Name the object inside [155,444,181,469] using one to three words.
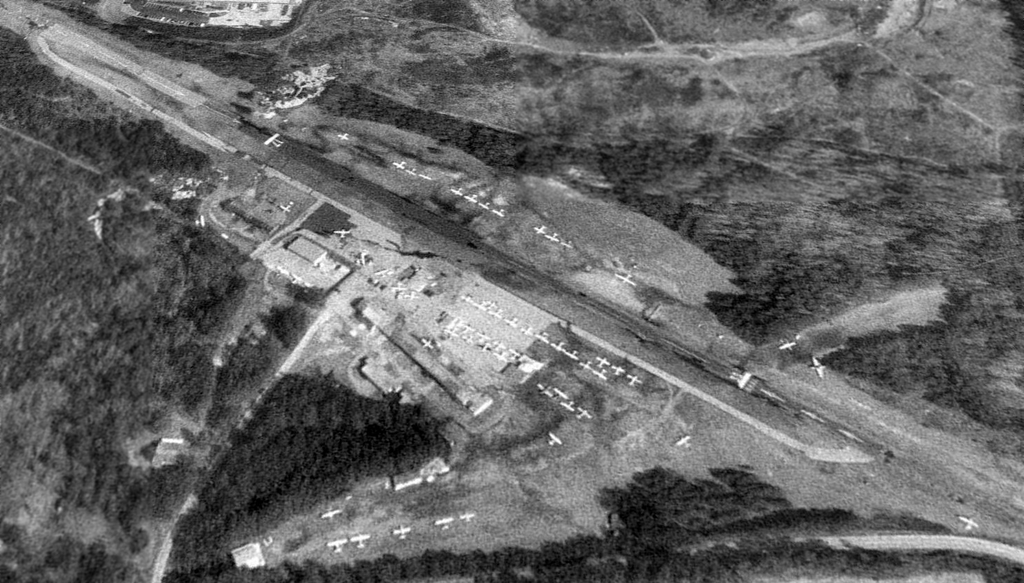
house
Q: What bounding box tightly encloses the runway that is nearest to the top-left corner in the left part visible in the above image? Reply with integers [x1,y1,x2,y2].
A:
[63,31,208,107]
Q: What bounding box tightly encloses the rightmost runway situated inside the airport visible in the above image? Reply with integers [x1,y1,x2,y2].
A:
[192,97,883,461]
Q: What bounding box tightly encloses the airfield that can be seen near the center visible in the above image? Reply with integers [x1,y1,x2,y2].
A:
[33,31,883,462]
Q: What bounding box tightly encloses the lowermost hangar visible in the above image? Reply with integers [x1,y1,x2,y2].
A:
[234,544,265,572]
